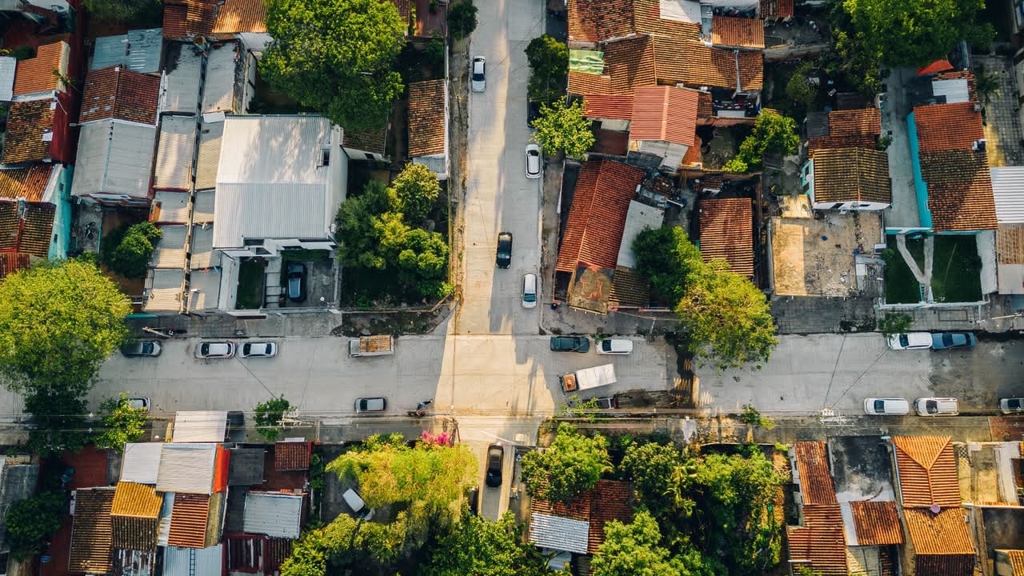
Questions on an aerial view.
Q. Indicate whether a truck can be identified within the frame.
Yes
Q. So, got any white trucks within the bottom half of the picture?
Yes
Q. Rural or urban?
urban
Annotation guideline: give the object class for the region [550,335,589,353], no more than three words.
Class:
car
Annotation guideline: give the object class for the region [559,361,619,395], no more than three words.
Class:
truck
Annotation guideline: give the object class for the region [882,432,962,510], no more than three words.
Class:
house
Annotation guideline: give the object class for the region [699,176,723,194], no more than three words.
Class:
shed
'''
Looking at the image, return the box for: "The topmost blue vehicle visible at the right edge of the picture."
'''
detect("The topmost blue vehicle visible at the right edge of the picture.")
[931,331,975,350]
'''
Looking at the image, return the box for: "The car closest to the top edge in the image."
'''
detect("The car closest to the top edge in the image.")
[470,56,487,93]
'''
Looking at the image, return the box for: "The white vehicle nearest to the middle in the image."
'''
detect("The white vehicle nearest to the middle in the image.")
[521,273,539,308]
